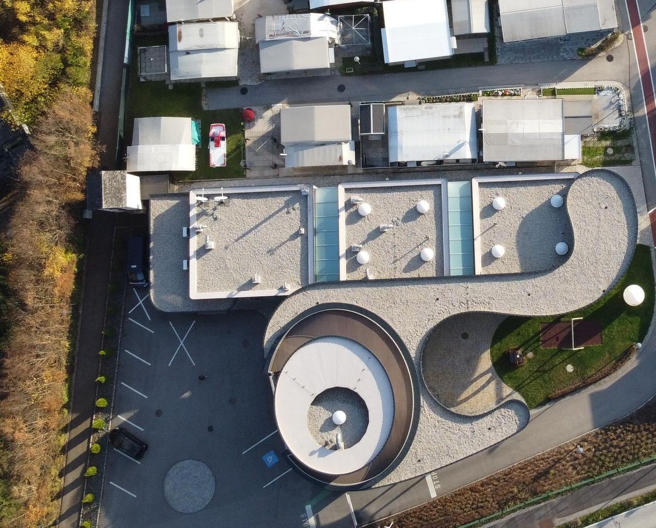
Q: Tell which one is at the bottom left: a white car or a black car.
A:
black car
